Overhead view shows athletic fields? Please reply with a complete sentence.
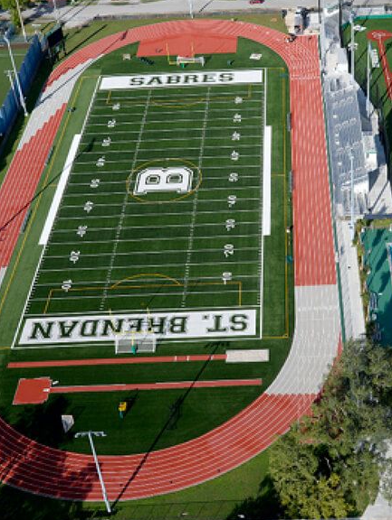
Yes, you can see an athletic field in this photo.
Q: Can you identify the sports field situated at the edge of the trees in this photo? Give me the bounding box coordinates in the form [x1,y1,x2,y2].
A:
[14,69,267,346]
